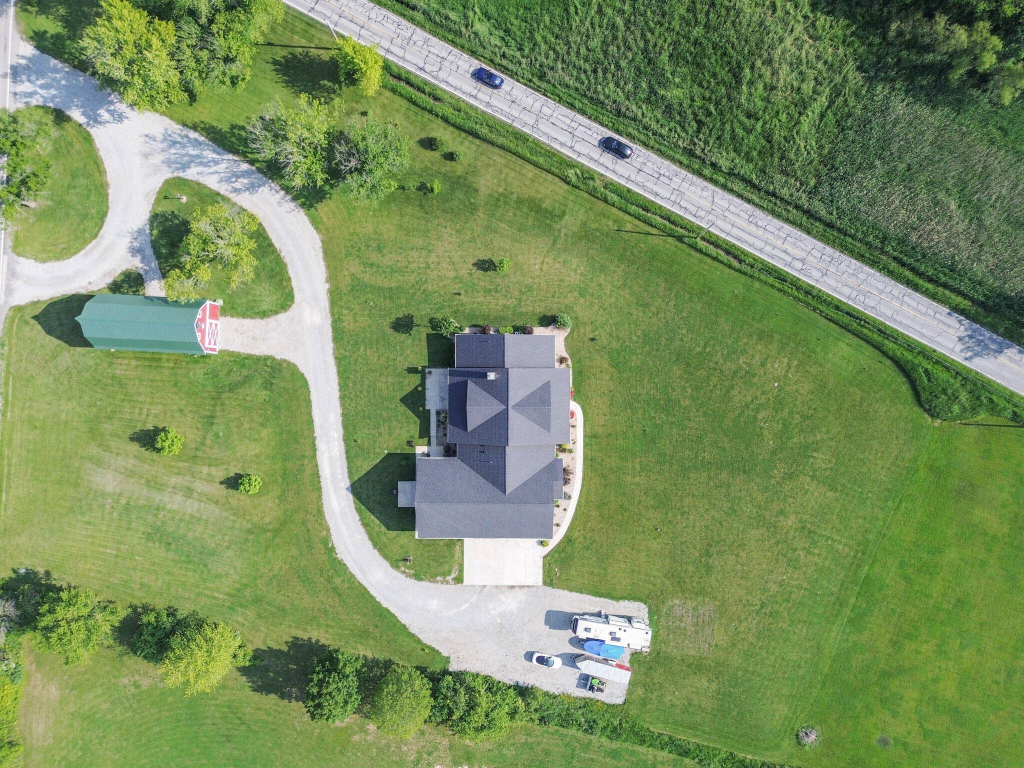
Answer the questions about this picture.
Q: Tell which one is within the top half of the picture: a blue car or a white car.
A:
blue car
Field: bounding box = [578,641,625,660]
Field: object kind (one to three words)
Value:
boat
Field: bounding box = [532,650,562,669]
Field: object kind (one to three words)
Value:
car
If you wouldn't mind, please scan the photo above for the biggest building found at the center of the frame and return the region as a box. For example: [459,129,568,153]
[414,332,571,540]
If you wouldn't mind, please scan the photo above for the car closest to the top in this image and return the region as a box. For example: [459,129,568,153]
[476,68,506,91]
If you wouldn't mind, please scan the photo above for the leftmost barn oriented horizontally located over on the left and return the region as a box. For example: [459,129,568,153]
[74,292,220,356]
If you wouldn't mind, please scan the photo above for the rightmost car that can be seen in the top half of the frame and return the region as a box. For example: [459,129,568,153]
[602,137,633,160]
